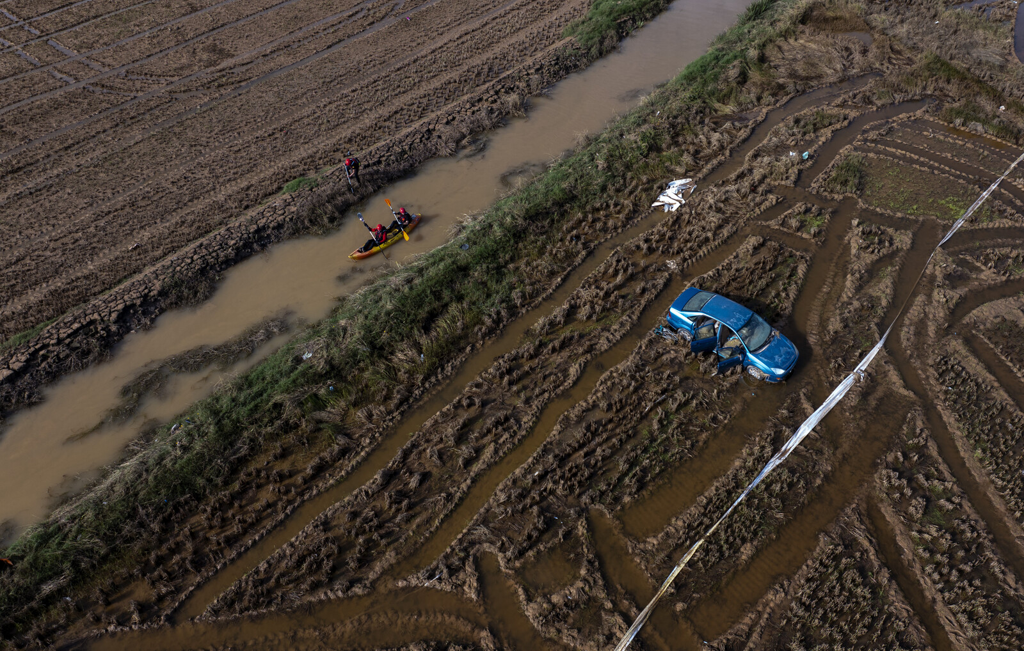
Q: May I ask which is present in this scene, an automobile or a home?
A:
automobile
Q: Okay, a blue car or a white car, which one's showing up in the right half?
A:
blue car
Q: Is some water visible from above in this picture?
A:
Yes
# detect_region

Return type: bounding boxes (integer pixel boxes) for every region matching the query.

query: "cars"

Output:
[668,289,803,390]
